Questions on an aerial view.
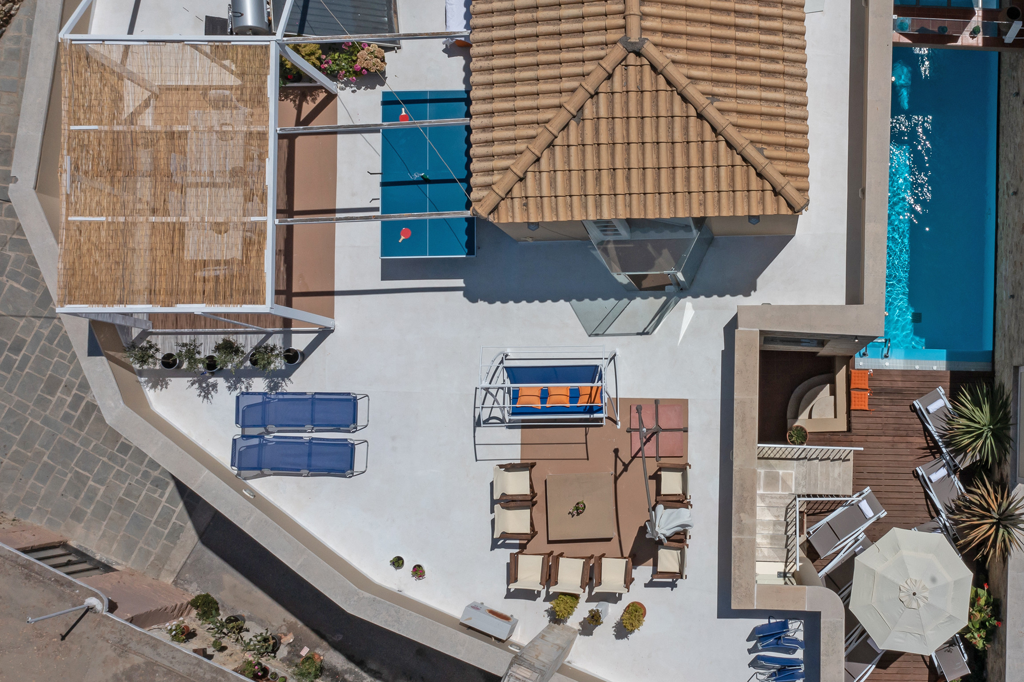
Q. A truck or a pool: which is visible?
pool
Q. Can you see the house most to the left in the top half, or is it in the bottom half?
bottom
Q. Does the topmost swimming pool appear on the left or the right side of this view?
right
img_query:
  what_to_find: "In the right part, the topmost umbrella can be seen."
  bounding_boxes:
[624,398,708,544]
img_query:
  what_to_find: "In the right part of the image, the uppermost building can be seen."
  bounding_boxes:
[464,0,814,238]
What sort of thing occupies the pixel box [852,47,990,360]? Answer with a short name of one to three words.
swimming pool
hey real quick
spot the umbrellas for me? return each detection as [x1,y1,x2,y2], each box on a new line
[624,398,708,544]
[849,527,973,656]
